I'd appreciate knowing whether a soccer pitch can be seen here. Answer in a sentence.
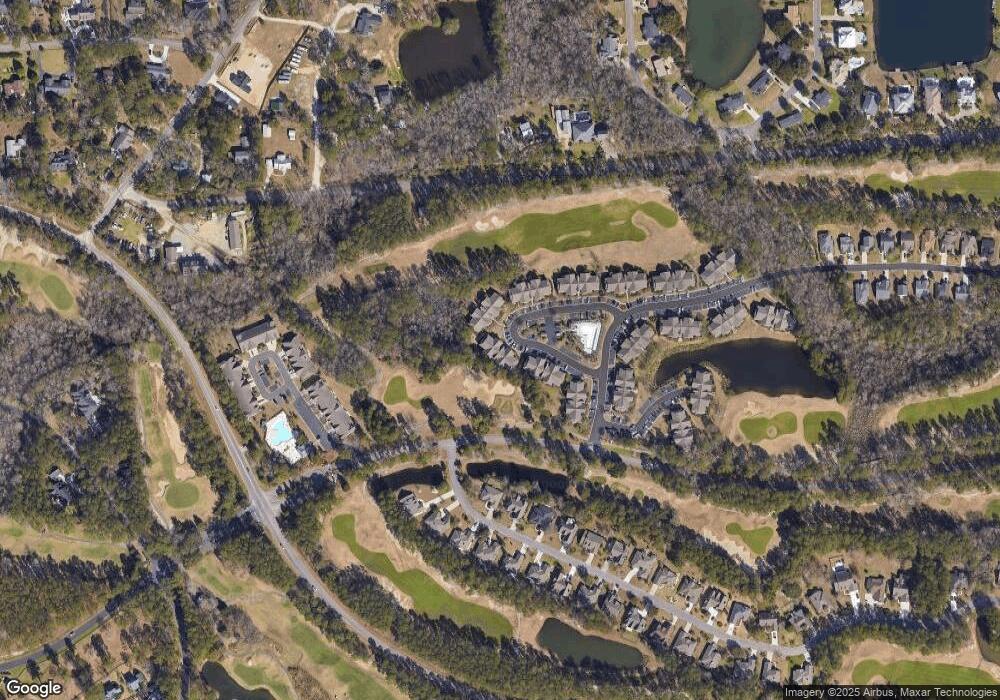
No, there is no soccer pitch in the image.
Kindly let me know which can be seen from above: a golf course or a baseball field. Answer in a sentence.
The image shows a golf course.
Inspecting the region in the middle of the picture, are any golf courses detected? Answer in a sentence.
Yes, in the middle of the picture there is a golf course.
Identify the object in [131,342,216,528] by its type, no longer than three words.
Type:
golf course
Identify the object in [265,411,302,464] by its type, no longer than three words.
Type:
swimming pool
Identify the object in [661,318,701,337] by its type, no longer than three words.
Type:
building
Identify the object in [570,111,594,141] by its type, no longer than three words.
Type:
house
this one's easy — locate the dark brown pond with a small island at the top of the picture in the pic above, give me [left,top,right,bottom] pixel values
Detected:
[402,1,497,99]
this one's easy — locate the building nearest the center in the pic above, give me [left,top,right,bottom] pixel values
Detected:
[479,334,520,368]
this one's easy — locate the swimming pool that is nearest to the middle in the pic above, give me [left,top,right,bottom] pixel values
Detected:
[572,320,602,354]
